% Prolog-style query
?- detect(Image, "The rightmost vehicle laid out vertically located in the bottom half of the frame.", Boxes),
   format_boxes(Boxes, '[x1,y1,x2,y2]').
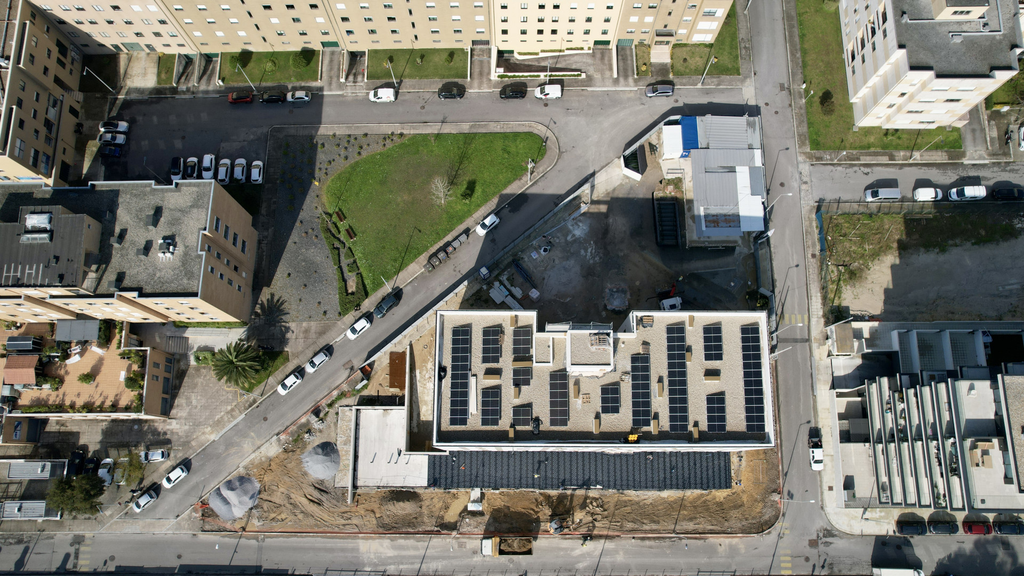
[807,428,825,471]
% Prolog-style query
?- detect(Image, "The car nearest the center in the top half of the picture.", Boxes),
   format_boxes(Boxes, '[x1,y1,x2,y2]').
[475,213,500,236]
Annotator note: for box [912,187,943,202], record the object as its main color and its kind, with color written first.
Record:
white vehicle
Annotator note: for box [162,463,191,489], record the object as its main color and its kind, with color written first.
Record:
white car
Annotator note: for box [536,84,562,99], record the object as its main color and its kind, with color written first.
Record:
white vehicle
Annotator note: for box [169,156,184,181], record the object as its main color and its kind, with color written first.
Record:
black car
